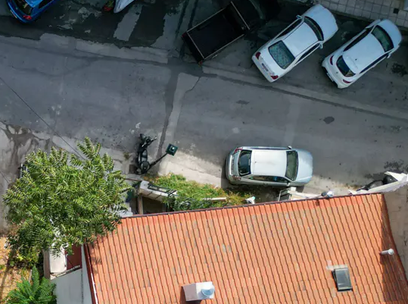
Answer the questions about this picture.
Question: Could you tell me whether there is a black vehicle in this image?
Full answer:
Yes, a black vehicle can be made out from above.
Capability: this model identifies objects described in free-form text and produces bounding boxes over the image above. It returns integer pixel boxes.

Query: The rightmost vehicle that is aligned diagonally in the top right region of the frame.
[311,18,399,97]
